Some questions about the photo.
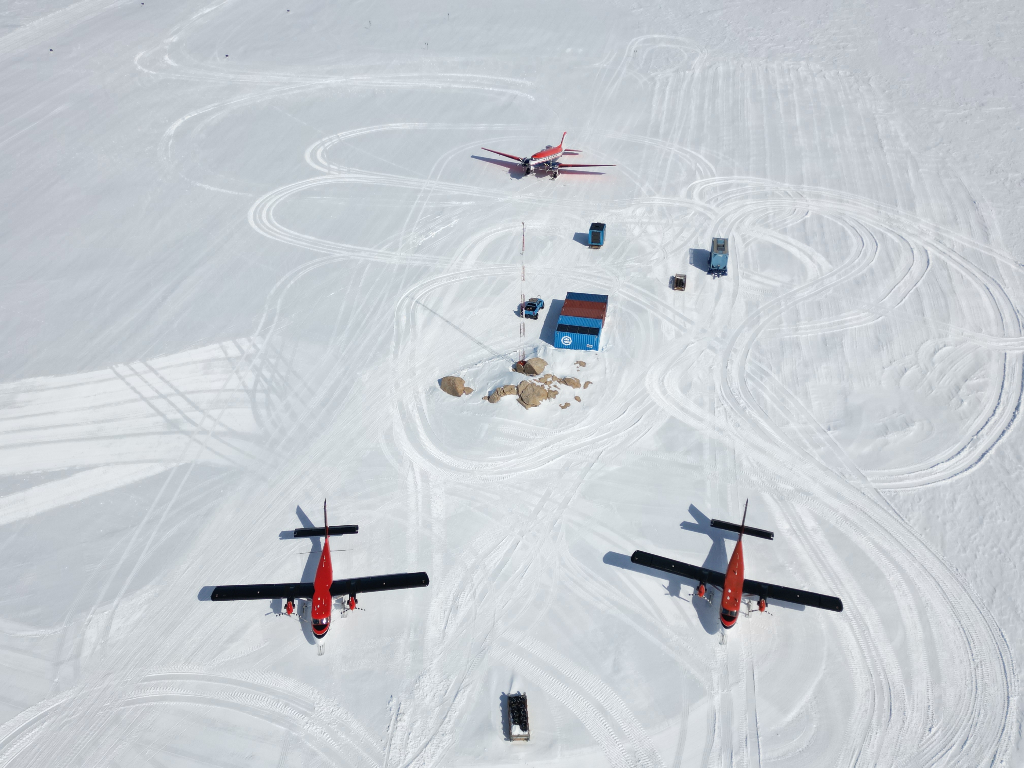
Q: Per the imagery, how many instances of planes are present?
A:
3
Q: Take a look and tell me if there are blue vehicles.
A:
Yes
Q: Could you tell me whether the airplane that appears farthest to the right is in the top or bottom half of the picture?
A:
bottom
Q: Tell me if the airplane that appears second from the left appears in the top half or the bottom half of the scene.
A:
top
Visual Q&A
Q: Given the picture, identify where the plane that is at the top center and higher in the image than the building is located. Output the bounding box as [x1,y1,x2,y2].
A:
[482,132,617,180]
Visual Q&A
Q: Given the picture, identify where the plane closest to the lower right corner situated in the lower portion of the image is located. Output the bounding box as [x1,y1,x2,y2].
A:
[631,500,842,644]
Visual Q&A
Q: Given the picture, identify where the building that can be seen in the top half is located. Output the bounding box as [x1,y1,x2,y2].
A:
[588,222,604,250]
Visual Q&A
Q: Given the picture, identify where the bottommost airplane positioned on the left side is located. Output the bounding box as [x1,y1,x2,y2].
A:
[212,501,429,655]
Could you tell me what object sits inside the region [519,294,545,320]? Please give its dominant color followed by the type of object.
blue truck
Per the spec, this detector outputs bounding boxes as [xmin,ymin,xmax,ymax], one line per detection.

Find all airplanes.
[482,132,617,180]
[631,500,842,644]
[212,501,429,655]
